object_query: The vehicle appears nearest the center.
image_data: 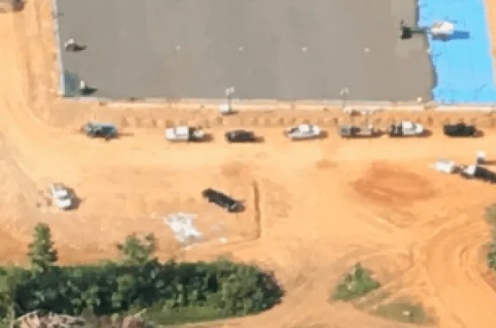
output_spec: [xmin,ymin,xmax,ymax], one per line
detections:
[226,129,257,144]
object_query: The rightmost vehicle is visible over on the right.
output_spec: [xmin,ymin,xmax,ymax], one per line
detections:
[463,163,496,183]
